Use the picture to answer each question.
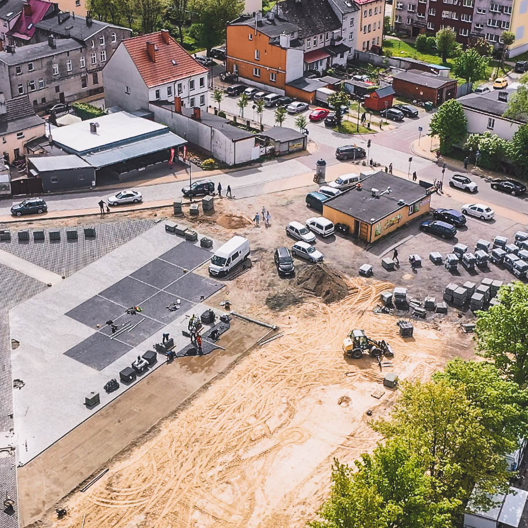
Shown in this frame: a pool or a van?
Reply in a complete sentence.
Looking from above, you can make out a van.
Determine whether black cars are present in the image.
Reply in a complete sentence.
Yes, there is a black car in the image.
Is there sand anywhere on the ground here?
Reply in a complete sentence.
Yes, there is sand in the image.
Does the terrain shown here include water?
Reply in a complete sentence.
No, there's no water in this view.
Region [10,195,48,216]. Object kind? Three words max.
car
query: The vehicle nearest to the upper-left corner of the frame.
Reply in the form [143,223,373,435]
[42,101,73,117]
